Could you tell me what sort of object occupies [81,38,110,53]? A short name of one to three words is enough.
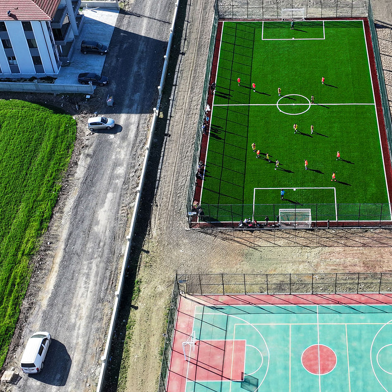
car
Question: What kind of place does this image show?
sports ground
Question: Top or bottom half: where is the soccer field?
top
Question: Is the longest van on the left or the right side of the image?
left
